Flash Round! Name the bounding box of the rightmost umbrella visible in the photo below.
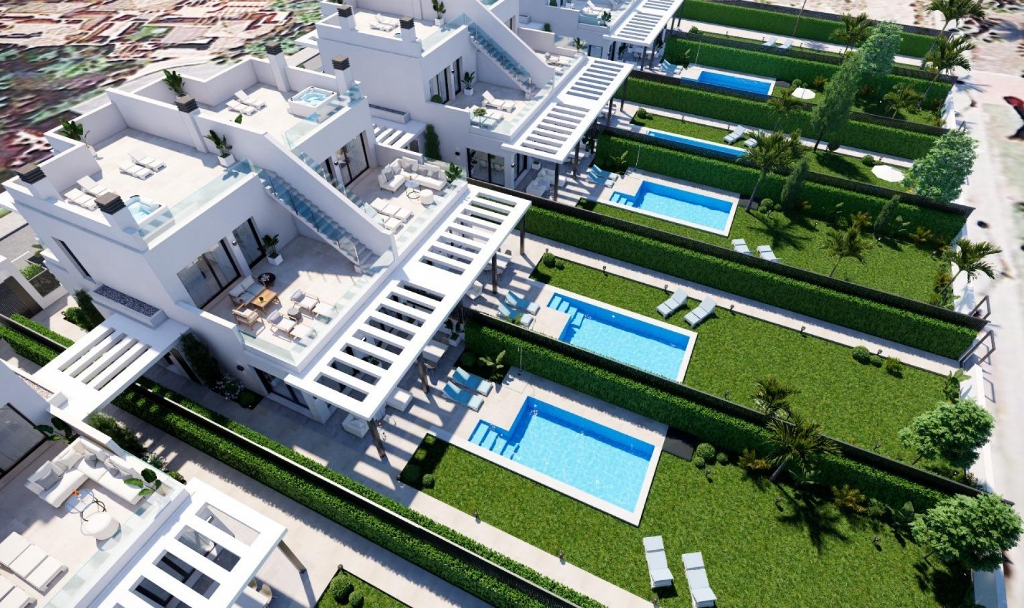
[868,166,907,187]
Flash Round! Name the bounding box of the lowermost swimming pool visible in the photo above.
[429,390,664,526]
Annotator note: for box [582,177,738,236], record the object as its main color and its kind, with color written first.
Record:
blue swimming pool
